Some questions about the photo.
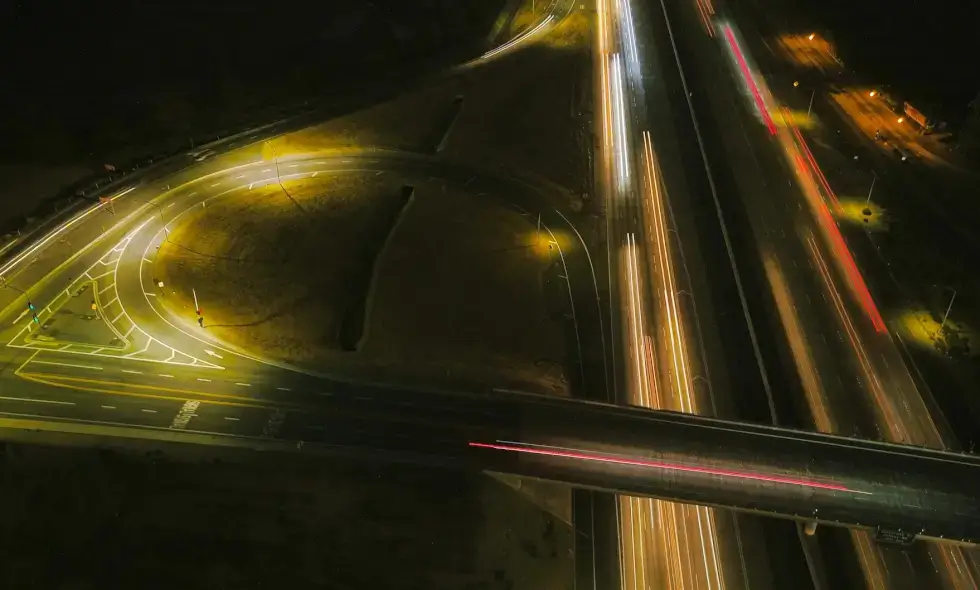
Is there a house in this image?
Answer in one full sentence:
No, no house is visible in the scene.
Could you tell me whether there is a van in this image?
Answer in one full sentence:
No, there isn't any van down there.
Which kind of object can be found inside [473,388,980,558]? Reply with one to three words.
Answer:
bridge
